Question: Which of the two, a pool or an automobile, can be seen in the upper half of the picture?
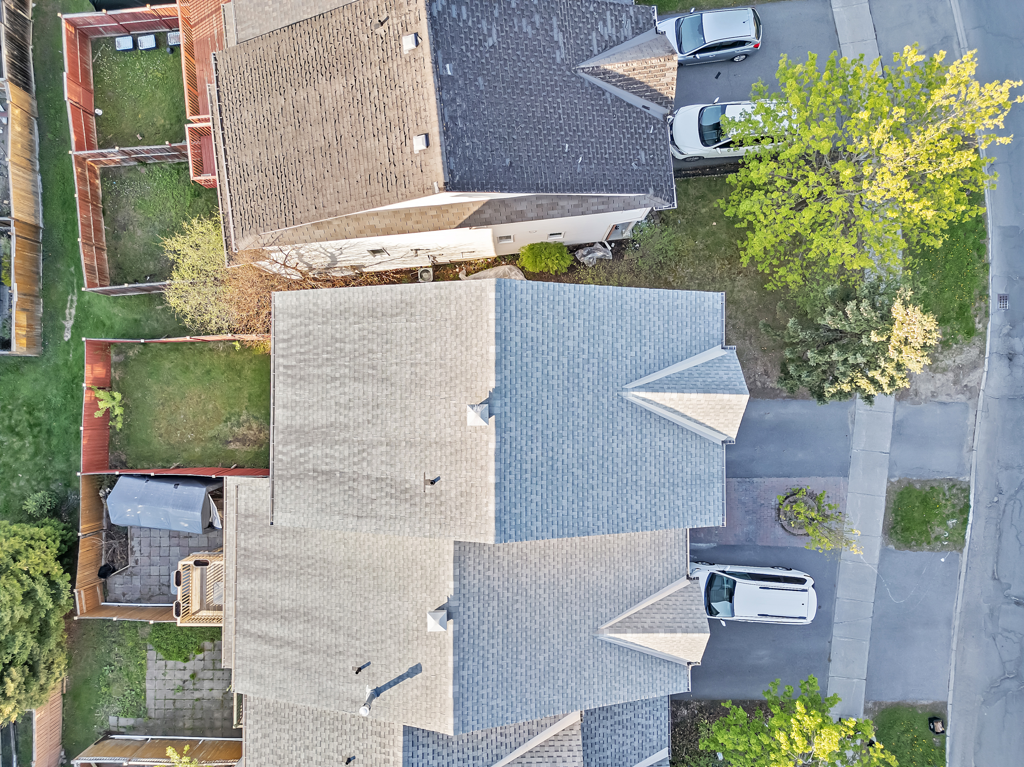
automobile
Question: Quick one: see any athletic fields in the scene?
No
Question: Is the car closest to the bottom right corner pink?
No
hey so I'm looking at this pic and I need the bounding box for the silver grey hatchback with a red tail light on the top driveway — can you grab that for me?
[660,0,760,60]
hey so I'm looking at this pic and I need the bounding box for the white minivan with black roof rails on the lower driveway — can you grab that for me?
[691,558,816,625]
